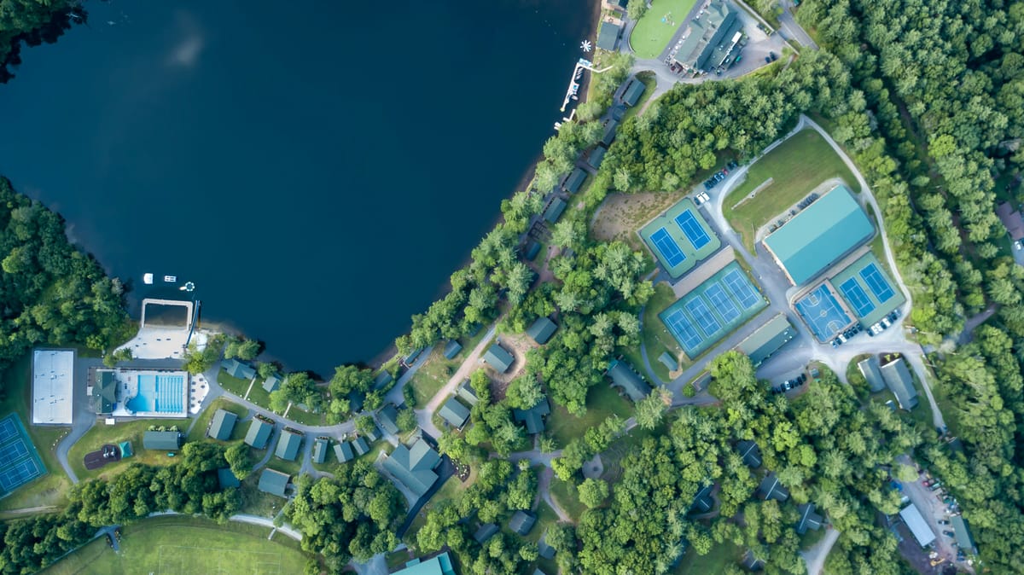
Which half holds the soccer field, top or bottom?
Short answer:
bottom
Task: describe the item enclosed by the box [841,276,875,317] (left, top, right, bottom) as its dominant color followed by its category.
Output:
blue tennis court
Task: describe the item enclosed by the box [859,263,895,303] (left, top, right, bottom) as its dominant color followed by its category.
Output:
blue tennis court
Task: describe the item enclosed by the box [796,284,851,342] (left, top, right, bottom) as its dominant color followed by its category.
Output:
blue basketball court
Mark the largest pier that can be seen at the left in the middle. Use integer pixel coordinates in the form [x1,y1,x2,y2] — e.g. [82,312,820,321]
[141,299,193,329]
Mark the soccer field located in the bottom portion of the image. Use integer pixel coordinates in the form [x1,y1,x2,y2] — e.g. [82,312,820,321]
[48,522,307,575]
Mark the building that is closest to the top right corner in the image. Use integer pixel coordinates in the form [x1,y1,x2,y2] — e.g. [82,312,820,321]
[994,201,1024,241]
